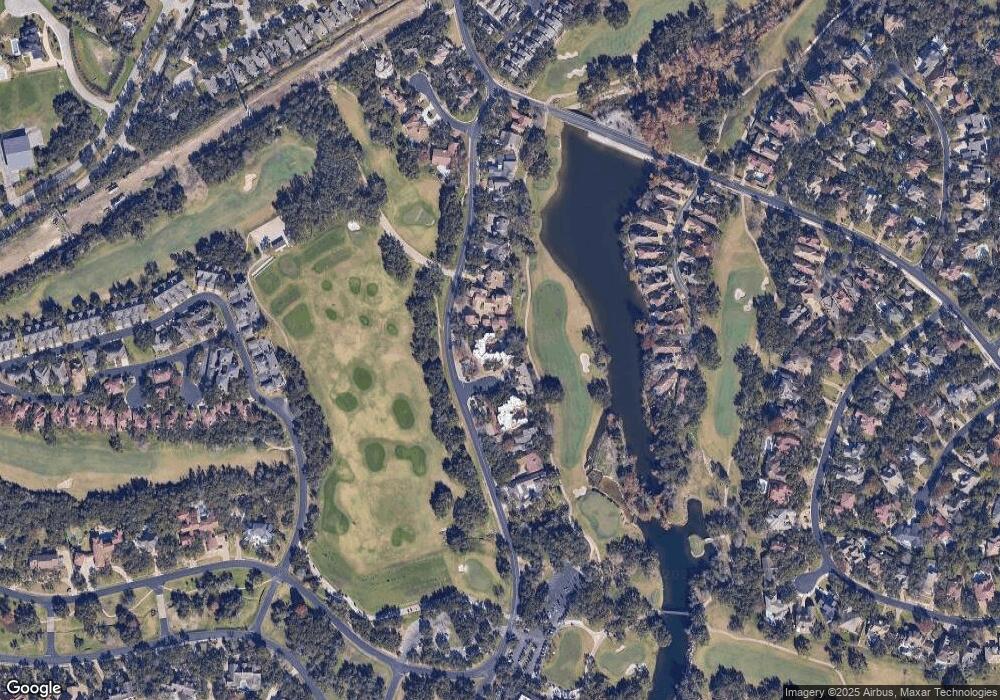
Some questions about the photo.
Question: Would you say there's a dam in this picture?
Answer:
Yes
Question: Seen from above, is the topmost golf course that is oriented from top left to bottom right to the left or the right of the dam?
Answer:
on its left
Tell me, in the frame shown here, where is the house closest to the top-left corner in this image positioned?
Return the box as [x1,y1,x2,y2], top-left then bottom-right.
[20,21,42,56]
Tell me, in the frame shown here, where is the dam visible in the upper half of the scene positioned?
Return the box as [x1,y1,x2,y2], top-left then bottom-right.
[567,104,652,162]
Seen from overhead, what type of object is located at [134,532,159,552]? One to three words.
house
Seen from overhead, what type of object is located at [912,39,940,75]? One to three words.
house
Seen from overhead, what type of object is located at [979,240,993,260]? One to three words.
swimming pool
